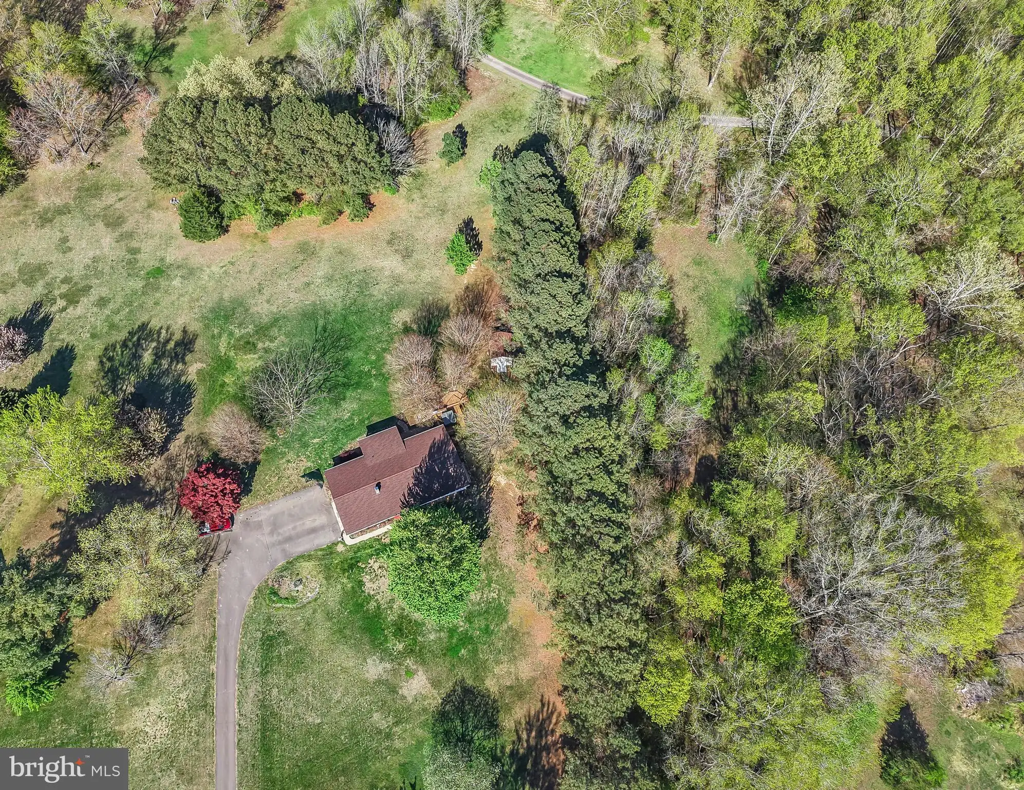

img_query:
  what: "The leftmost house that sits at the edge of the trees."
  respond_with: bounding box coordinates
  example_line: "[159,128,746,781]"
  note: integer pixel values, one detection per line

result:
[324,424,469,535]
